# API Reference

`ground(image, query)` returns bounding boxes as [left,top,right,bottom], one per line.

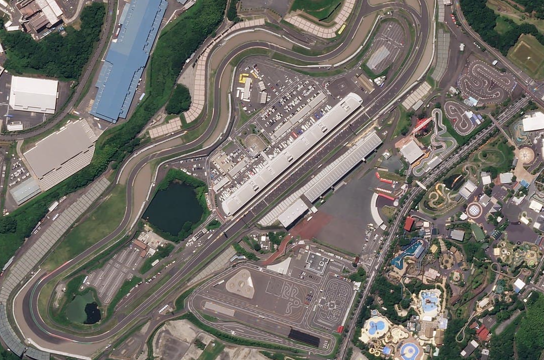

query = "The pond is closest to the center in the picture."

[144,182,205,236]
